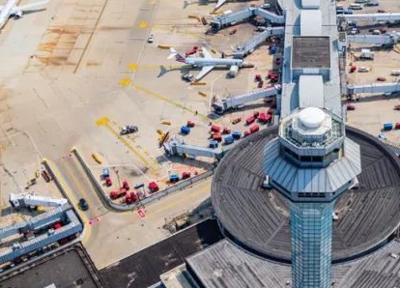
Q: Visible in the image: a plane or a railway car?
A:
plane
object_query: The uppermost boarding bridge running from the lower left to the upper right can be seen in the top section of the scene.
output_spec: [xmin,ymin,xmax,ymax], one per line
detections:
[234,29,285,68]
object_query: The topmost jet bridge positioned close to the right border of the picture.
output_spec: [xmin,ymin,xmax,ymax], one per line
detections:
[339,13,400,31]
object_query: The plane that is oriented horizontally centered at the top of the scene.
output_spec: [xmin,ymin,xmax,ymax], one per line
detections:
[178,46,255,80]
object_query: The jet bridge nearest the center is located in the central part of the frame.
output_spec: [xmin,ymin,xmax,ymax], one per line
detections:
[167,142,224,172]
